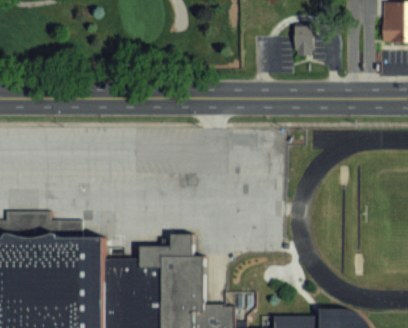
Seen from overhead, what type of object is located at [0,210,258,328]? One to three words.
building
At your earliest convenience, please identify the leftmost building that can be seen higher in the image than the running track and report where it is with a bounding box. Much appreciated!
[295,26,314,57]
